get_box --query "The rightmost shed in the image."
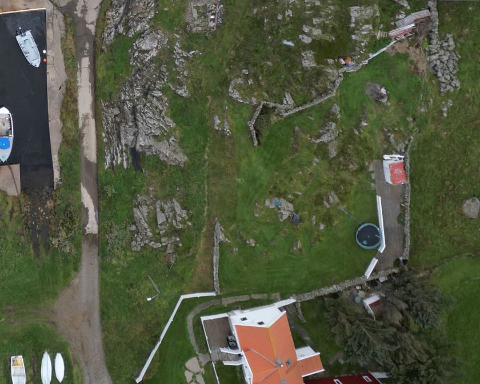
[384,159,407,185]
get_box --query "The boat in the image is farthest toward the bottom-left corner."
[11,354,26,384]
